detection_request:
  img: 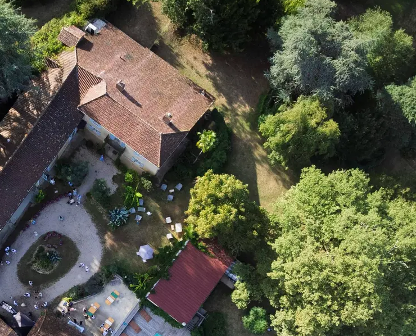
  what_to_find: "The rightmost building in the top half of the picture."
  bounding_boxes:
[57,20,217,179]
